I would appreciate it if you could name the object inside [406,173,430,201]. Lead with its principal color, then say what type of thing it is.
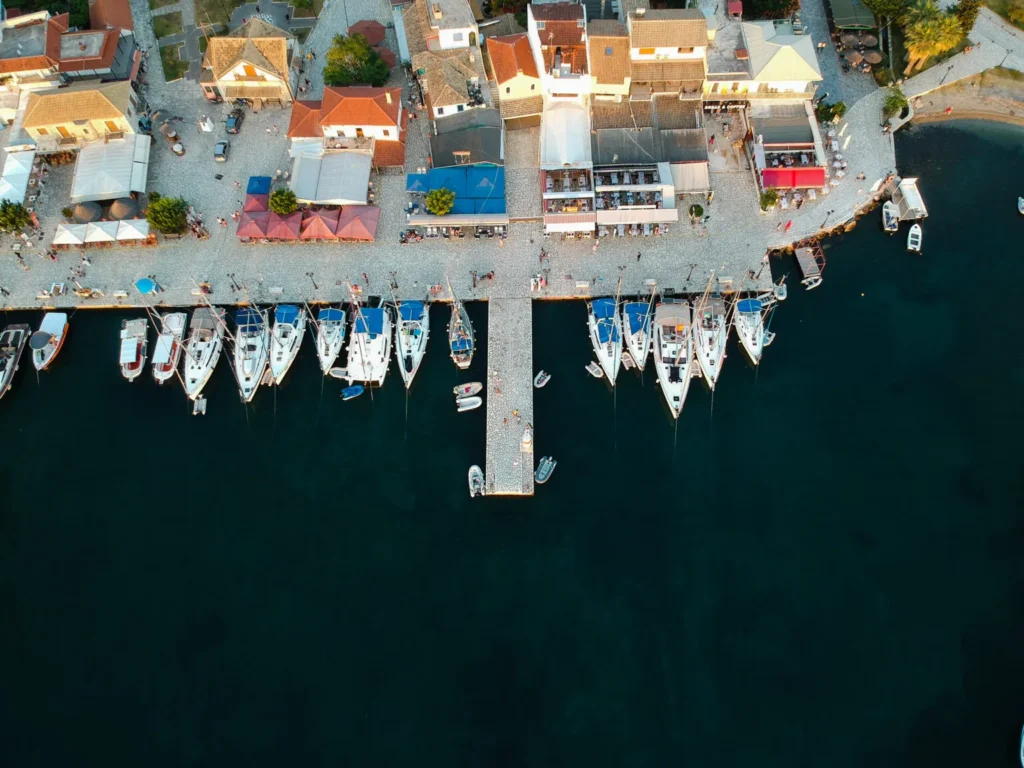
blue tent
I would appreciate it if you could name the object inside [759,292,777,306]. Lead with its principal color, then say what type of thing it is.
gray boat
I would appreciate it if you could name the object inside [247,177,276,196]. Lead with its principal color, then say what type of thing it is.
blue tent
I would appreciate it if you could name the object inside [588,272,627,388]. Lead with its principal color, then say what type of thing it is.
white boat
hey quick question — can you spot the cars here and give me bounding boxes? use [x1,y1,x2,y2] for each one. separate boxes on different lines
[213,142,228,162]
[226,112,243,135]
